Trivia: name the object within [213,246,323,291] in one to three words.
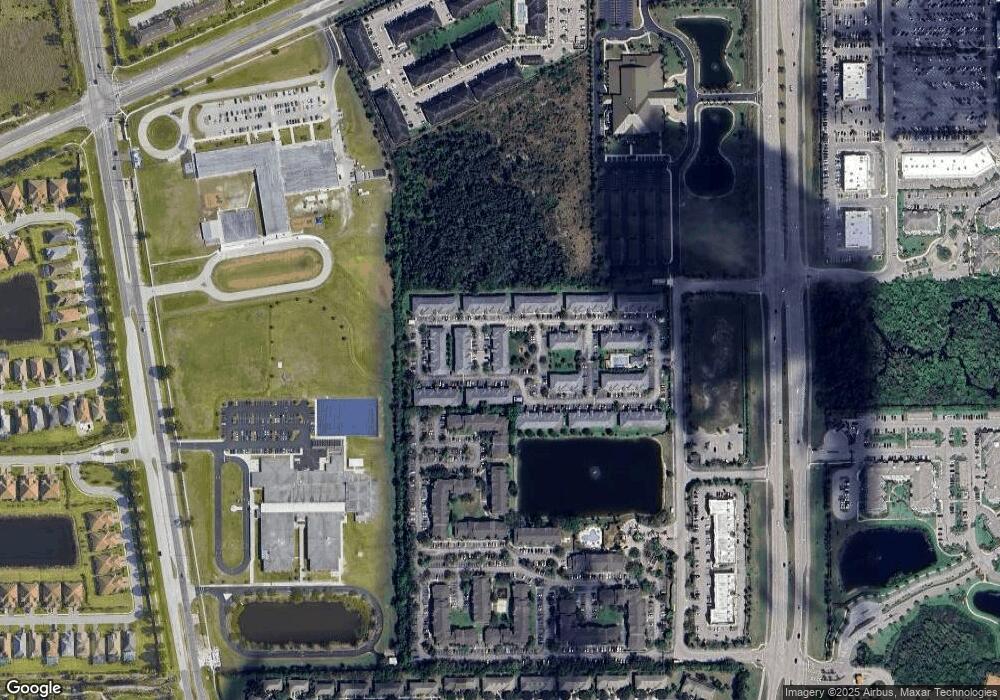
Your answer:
sports field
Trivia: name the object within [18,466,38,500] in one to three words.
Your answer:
house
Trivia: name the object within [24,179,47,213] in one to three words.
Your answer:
house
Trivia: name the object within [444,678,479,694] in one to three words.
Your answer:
building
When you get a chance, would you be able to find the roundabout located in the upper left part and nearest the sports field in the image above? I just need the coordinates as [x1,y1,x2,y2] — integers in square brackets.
[138,105,187,154]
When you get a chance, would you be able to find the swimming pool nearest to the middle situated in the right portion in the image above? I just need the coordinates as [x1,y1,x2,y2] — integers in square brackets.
[611,354,629,367]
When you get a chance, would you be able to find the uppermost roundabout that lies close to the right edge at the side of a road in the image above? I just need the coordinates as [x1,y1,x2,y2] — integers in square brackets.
[925,235,961,271]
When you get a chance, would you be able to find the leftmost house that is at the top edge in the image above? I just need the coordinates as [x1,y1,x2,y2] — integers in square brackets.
[137,12,190,47]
